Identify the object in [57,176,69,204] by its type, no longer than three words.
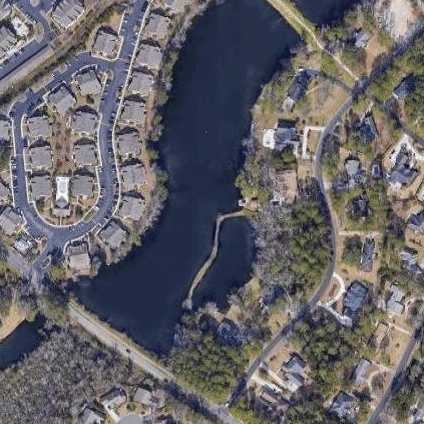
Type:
swimming pool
